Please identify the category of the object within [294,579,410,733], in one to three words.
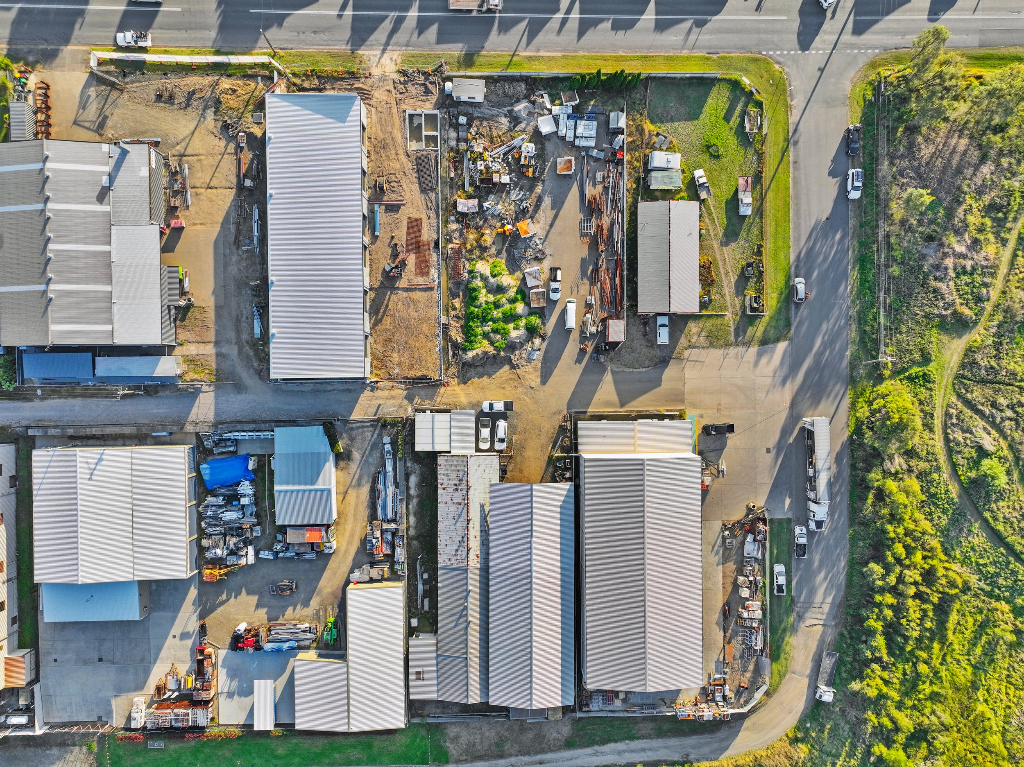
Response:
shed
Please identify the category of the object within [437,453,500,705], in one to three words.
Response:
shed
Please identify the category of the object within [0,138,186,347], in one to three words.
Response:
warehouse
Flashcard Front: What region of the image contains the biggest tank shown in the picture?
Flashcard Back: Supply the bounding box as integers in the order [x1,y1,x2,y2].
[406,109,440,150]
